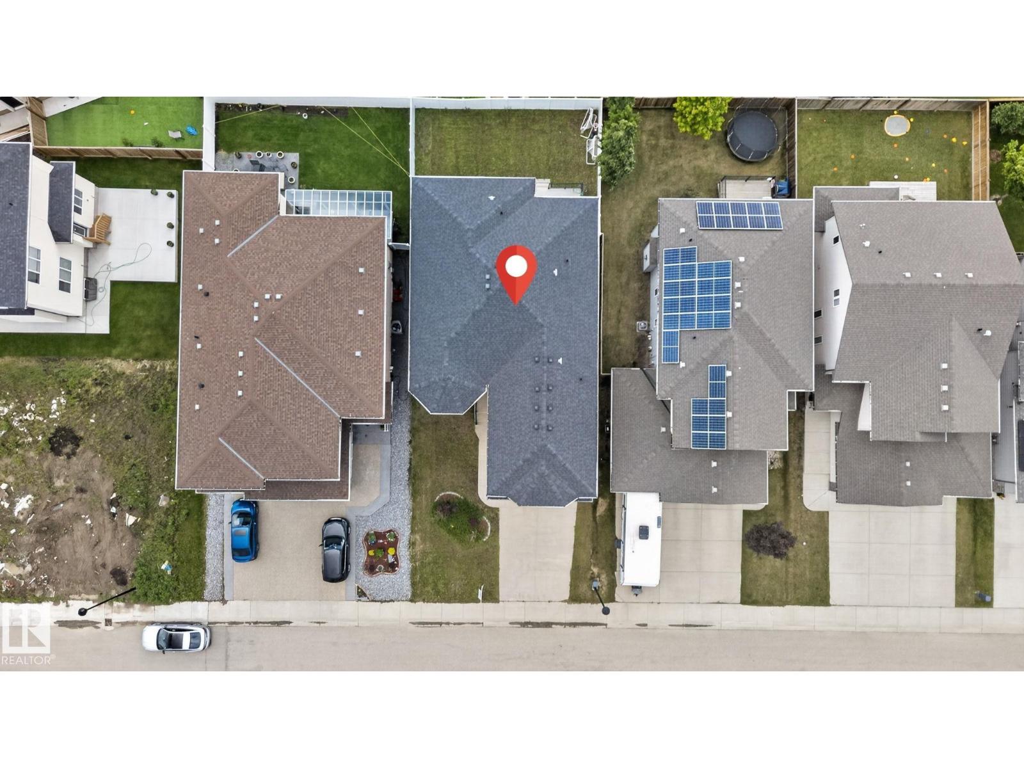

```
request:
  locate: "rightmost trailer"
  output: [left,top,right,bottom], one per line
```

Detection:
[611,493,661,595]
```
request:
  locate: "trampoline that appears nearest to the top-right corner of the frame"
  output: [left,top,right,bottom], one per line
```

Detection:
[884,114,910,136]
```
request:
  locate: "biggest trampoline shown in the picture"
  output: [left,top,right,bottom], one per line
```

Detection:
[720,101,787,168]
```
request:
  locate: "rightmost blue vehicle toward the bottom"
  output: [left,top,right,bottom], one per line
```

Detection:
[226,500,259,562]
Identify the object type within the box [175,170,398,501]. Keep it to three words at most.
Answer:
house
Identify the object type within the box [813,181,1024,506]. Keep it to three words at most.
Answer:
house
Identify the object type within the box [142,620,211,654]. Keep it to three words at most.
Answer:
car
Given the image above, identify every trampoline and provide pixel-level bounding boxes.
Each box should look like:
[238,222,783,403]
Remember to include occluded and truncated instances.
[720,101,787,168]
[884,114,910,136]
